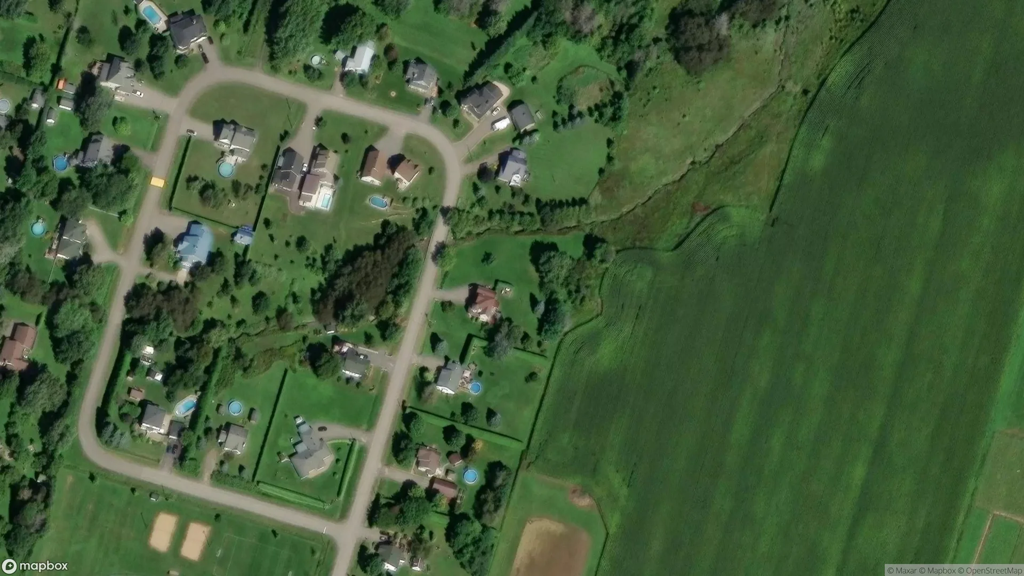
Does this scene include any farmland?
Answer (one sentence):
Yes, there's farmland in this view.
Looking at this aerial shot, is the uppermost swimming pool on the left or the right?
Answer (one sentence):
It is on the left.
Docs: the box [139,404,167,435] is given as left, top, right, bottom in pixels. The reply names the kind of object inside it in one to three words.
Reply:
house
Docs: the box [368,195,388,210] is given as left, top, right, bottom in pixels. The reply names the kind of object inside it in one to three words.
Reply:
swimming pool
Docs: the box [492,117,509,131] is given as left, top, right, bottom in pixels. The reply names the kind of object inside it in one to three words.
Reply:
camper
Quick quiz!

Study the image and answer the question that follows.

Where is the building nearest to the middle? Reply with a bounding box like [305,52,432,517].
[467,286,500,330]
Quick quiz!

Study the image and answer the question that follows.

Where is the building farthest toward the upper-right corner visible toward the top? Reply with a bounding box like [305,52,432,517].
[509,102,535,132]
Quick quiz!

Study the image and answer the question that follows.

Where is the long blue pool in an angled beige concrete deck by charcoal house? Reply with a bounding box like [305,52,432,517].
[138,0,168,33]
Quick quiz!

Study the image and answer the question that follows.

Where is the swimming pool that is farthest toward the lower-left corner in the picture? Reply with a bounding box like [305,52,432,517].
[175,396,197,417]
